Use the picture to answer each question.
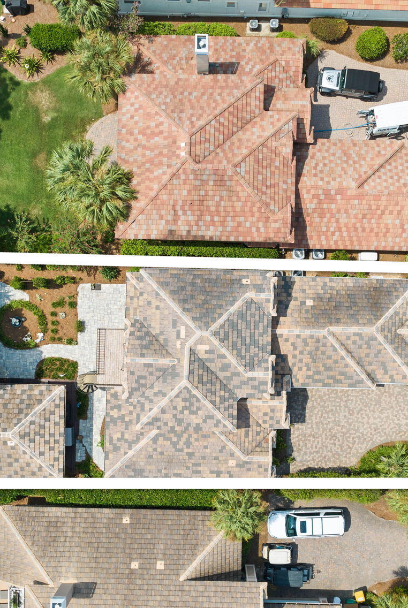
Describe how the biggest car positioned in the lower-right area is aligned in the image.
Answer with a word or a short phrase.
from left to right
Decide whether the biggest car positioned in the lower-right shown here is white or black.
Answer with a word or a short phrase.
white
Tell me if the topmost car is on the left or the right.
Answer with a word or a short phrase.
right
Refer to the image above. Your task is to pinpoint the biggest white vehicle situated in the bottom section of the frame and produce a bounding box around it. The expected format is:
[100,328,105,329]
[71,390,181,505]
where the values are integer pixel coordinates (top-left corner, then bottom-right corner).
[267,505,345,543]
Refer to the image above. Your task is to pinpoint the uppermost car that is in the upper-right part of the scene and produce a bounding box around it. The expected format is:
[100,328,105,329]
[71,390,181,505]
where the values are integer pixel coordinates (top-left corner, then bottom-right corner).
[314,63,384,103]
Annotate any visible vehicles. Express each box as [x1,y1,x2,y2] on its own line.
[314,63,384,103]
[259,565,316,591]
[267,505,345,543]
[356,98,408,141]
[259,542,293,566]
